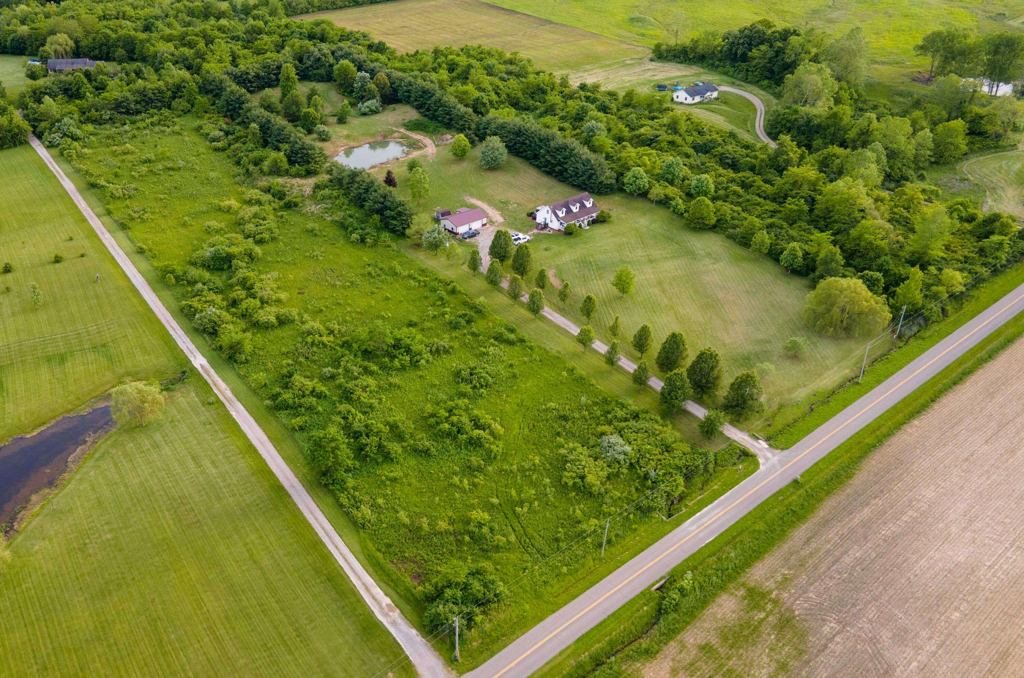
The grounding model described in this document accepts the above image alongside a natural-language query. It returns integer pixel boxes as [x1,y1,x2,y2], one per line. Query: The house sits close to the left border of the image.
[45,60,113,76]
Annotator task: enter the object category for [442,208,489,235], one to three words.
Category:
building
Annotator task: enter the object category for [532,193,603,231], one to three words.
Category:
house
